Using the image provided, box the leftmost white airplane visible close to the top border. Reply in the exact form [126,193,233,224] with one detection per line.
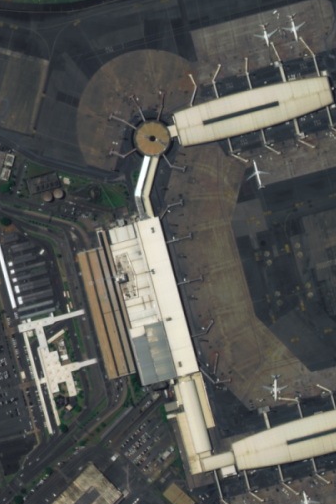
[254,22,276,46]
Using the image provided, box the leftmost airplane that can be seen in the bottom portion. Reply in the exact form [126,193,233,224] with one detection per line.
[264,375,288,401]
